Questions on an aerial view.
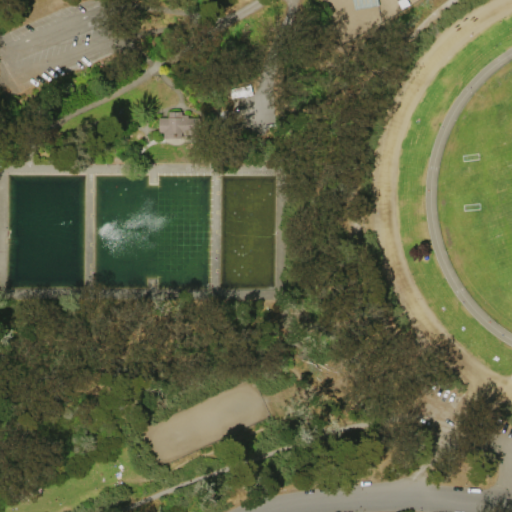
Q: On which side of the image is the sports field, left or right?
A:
right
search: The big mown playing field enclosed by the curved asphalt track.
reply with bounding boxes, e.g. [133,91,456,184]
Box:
[436,58,512,334]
